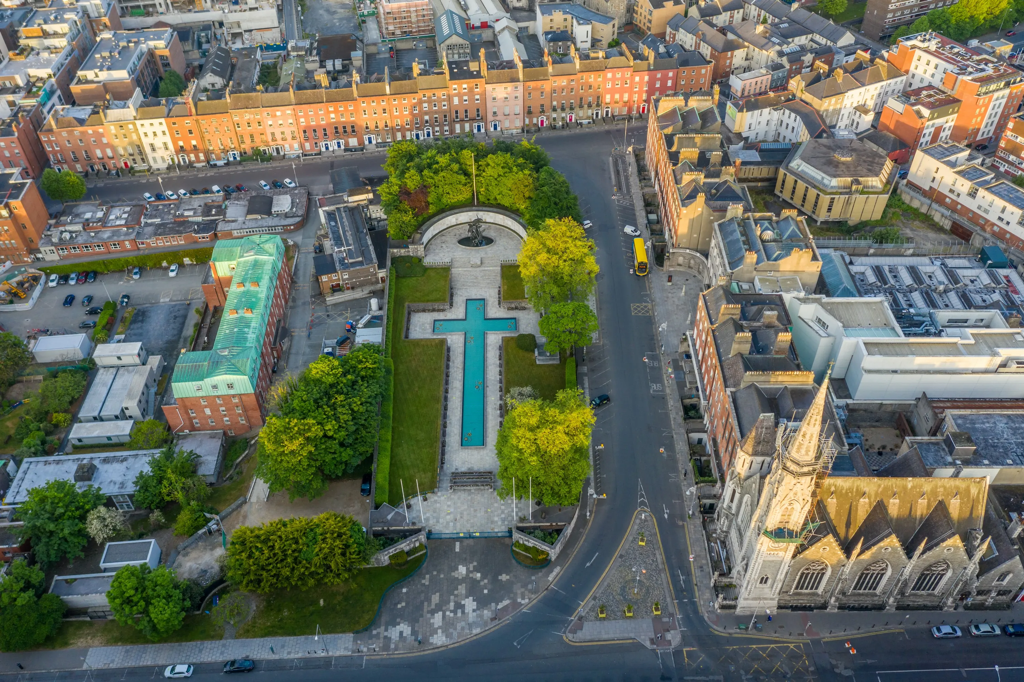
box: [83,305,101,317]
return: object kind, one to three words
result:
vehicle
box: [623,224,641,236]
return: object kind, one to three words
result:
vehicle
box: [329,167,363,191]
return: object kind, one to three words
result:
shed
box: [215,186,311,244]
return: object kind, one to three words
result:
building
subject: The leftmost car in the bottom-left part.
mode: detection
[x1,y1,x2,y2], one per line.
[163,664,194,680]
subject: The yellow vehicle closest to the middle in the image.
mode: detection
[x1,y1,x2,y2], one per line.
[632,239,649,278]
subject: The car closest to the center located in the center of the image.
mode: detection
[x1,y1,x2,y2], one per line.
[590,394,612,408]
